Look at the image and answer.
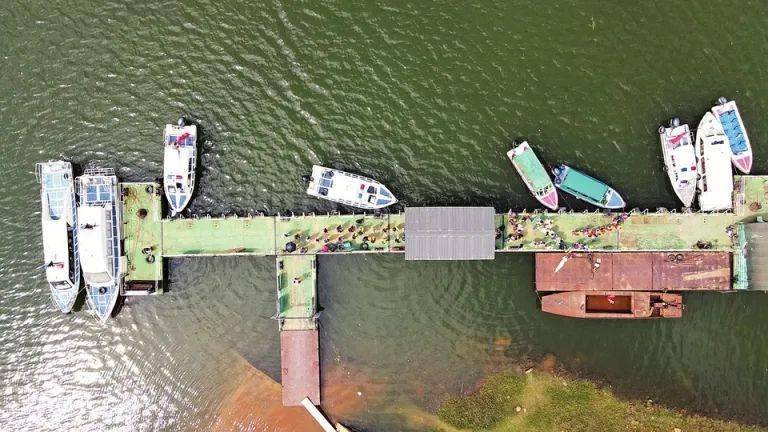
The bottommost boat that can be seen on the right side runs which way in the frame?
from left to right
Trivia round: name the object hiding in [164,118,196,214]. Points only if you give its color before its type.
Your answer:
white boat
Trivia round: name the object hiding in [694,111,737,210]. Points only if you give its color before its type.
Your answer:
white boat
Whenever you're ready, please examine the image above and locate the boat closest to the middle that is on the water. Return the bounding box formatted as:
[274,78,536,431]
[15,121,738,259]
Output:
[304,166,398,208]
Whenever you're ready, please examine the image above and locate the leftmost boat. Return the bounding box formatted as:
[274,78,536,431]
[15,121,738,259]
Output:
[37,155,83,314]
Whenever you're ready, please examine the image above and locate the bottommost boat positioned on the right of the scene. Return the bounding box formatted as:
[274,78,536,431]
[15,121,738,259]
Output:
[541,291,685,319]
